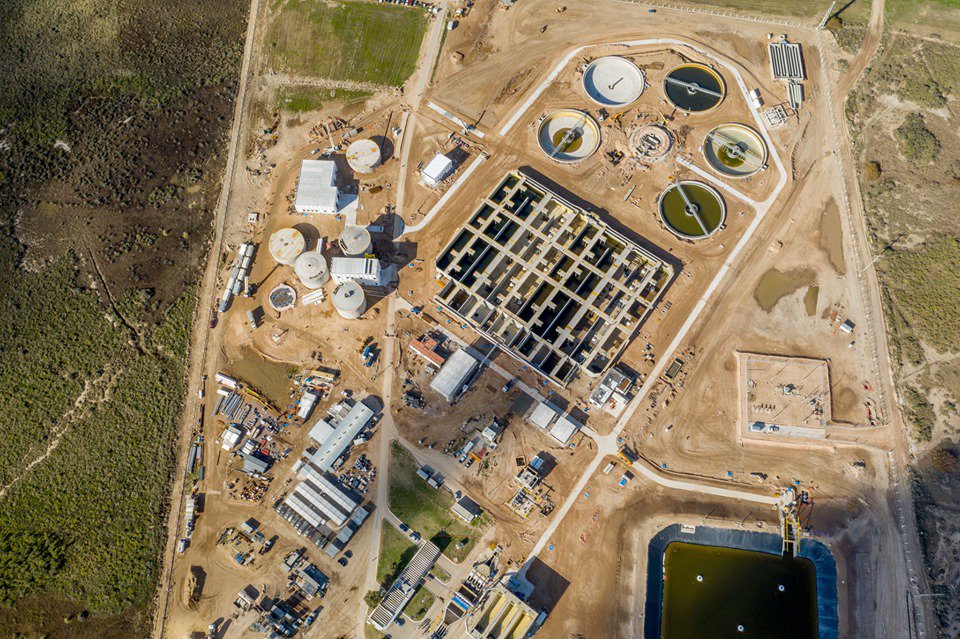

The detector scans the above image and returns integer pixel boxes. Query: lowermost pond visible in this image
[644,524,841,639]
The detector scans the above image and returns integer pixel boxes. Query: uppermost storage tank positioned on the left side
[346,141,382,176]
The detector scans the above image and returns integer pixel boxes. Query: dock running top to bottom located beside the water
[780,498,802,557]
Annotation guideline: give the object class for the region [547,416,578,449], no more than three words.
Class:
building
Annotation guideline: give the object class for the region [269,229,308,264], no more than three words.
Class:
storage tank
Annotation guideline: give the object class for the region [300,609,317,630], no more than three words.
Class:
vehicle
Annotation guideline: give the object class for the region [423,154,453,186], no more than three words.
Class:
shed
